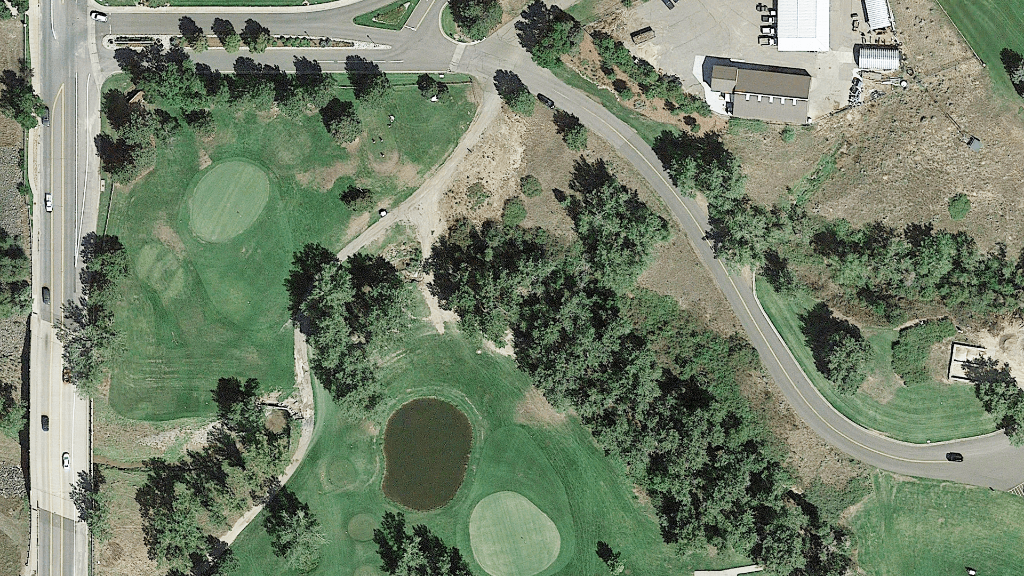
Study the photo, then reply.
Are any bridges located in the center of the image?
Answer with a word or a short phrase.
No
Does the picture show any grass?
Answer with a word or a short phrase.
Yes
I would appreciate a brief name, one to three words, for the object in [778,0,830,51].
building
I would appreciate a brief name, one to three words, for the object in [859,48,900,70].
shed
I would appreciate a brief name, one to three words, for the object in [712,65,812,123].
building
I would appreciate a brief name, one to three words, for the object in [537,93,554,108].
car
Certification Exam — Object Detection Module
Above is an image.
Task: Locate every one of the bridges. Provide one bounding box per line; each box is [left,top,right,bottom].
[29,313,93,525]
